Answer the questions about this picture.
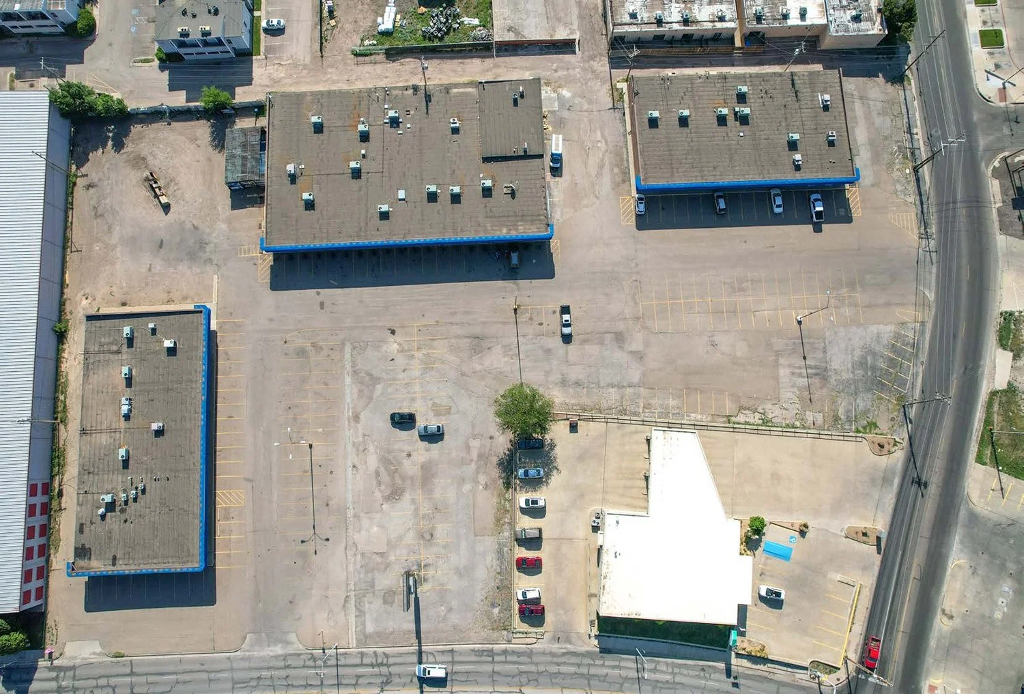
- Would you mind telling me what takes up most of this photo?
paved ground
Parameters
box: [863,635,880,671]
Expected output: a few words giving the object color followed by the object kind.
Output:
red vehicle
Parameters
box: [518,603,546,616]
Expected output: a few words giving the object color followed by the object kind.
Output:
red vehicle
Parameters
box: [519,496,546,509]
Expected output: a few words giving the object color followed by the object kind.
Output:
white vehicle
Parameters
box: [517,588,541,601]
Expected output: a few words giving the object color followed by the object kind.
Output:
white vehicle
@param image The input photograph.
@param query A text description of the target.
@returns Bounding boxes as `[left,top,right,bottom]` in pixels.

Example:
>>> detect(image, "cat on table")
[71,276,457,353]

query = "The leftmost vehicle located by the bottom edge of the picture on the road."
[416,663,447,679]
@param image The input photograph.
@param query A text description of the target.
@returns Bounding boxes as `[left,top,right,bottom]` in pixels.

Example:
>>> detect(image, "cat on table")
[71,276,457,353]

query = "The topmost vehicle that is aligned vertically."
[550,134,563,168]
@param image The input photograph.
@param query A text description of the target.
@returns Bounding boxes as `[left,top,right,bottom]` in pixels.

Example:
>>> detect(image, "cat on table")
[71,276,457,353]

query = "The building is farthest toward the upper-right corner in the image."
[817,0,887,51]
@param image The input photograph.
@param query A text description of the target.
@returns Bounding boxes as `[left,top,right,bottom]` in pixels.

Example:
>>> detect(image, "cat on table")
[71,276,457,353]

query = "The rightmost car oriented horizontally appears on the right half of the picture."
[757,586,786,600]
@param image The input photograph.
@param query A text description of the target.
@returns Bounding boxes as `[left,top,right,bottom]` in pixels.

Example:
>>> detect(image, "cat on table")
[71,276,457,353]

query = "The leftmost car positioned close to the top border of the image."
[262,19,286,31]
